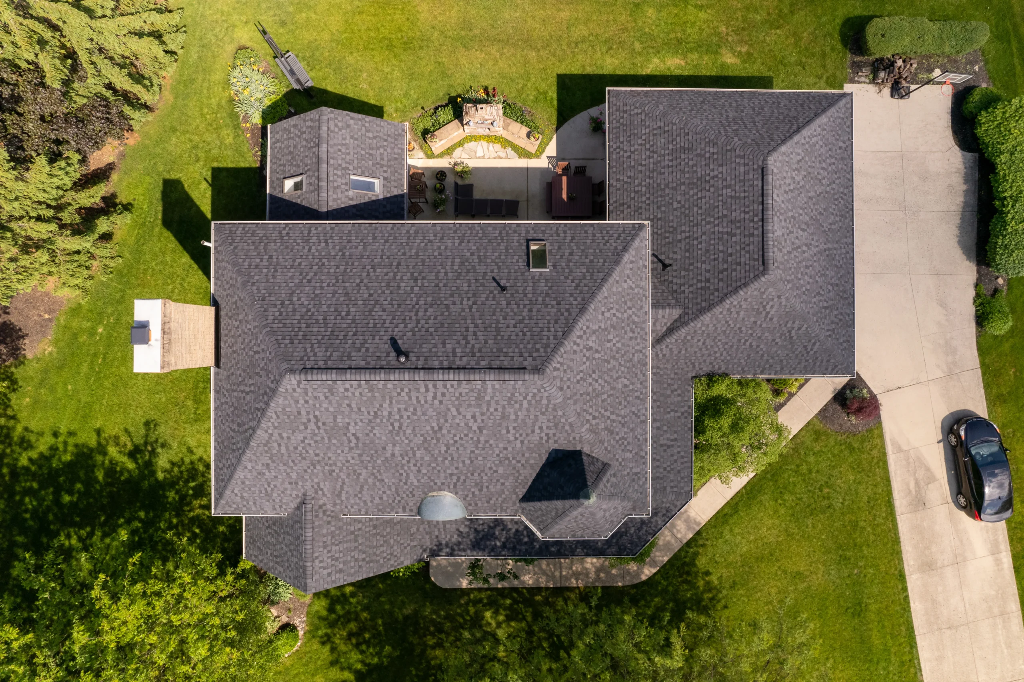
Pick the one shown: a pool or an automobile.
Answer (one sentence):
The image shows an automobile.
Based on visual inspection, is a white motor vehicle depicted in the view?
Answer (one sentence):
No, no white motor vehicle can be seen from above.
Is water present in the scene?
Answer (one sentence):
No, no water is visible.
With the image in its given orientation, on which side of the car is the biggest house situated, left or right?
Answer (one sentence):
The biggest house can be seen on the left of the car.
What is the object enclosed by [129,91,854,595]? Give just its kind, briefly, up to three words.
house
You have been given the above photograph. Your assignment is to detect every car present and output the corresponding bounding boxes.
[949,412,1014,526]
